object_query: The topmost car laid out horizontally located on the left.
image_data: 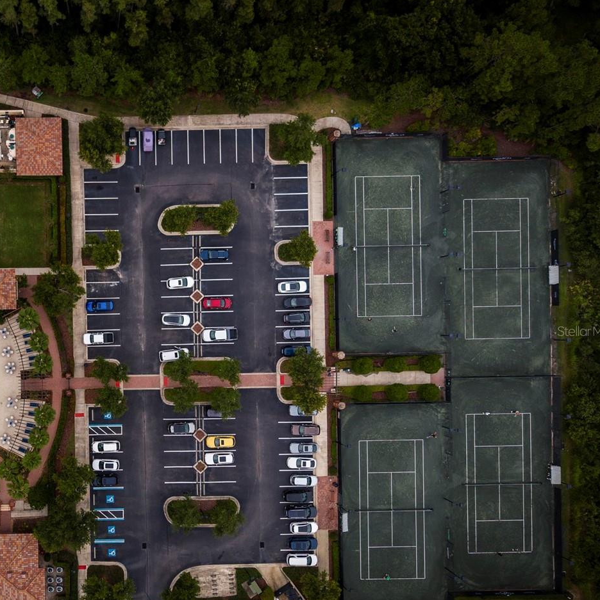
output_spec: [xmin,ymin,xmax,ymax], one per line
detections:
[200,247,228,261]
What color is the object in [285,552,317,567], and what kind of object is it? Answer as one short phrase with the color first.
white car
